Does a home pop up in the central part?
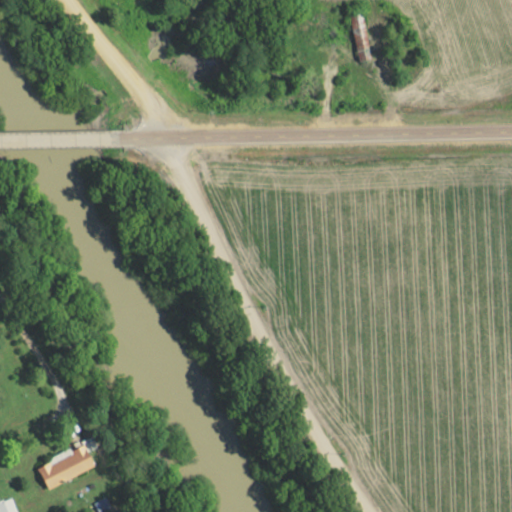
No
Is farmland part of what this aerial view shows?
Yes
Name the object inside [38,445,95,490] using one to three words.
house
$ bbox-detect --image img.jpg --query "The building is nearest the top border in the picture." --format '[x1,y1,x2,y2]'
[351,14,372,62]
